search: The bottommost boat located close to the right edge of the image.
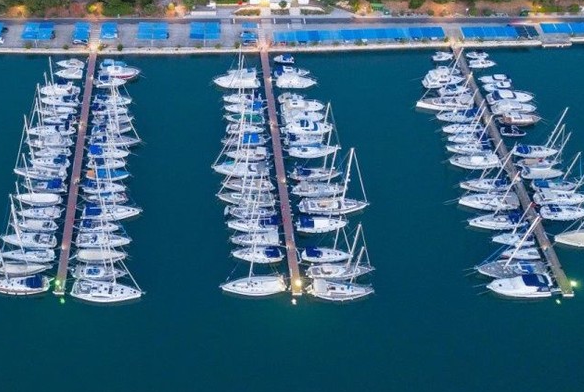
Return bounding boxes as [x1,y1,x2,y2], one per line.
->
[482,277,565,301]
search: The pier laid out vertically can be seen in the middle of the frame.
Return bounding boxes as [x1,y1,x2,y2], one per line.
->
[259,51,305,297]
